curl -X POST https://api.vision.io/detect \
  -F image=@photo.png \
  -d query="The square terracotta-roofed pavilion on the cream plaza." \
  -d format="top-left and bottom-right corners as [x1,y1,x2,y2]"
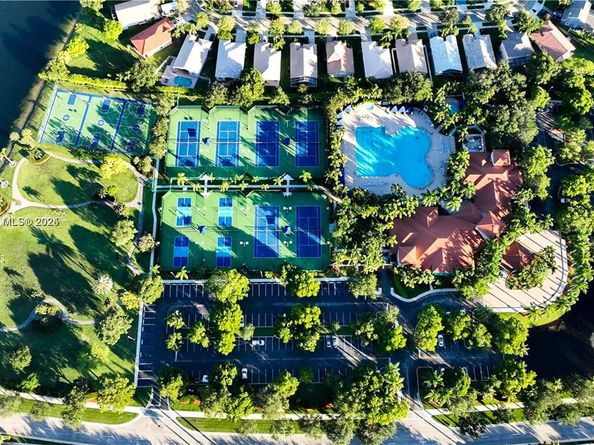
[501,240,533,270]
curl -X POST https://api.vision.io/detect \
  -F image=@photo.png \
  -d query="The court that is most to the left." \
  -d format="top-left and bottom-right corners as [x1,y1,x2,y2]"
[40,90,90,144]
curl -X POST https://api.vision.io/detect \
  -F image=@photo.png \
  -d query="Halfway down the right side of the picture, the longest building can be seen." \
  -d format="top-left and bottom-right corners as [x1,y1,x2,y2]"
[391,150,525,273]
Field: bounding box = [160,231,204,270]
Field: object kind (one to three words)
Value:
sports court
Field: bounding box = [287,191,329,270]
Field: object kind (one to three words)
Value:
tennis court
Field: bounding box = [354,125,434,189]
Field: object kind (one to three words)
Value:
swimming pool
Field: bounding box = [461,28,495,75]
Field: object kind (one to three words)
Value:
house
